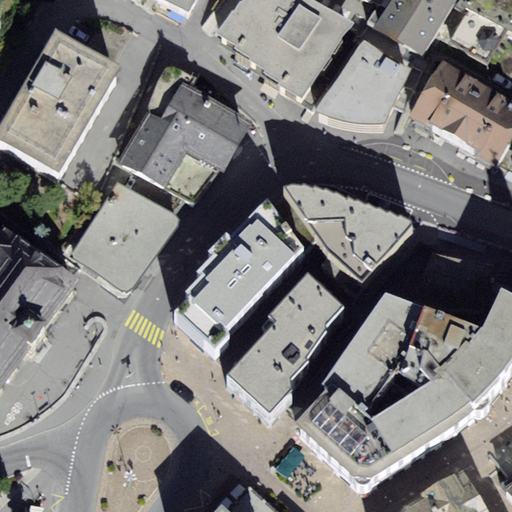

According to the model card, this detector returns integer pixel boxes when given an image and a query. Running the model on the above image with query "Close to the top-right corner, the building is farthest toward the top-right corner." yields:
[445,5,510,68]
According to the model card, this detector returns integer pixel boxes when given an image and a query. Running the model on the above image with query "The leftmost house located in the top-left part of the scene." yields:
[0,28,122,181]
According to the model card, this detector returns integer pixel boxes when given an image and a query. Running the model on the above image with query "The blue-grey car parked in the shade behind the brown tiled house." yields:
[490,72,512,92]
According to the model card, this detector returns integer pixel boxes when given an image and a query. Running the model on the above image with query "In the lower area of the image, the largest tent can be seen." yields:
[276,448,305,480]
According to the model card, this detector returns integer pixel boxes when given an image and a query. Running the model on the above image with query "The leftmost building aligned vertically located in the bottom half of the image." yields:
[0,226,84,406]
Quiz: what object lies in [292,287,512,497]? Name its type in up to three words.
building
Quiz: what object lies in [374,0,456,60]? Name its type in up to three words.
house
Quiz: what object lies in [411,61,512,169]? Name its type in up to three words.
house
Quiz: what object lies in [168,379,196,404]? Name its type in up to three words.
car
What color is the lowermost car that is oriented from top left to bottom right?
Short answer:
black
